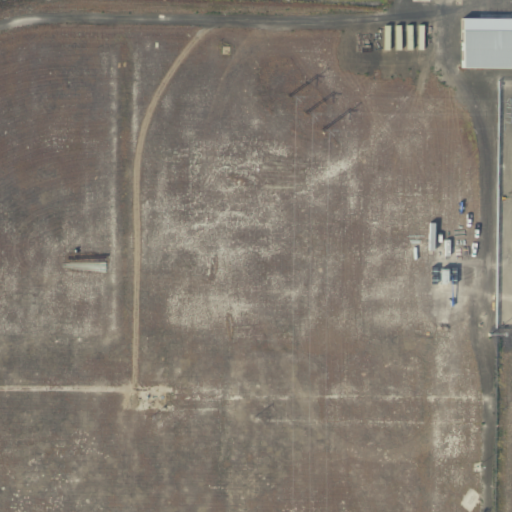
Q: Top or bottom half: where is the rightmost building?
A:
top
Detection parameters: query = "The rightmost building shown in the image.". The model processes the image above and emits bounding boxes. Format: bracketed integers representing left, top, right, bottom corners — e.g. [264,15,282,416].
[460,17,512,69]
